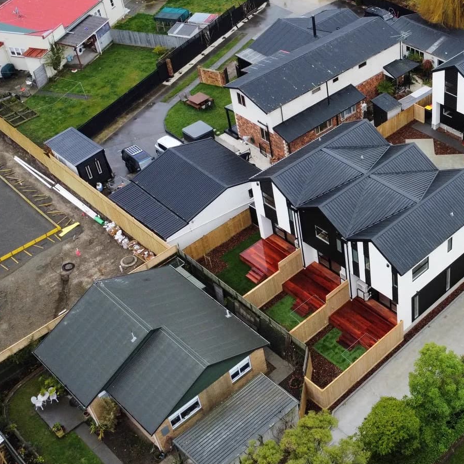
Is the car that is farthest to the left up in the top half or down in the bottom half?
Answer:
top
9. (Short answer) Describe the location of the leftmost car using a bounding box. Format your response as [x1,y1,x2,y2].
[109,132,159,176]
